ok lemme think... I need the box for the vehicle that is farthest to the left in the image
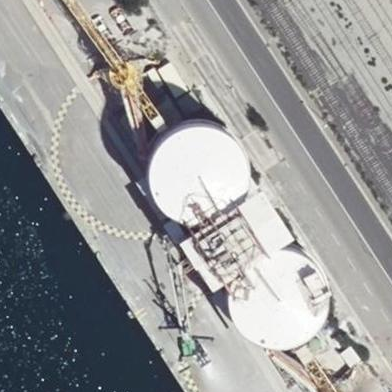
[94,16,114,42]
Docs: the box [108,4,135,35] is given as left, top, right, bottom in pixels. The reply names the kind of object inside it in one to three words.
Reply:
truck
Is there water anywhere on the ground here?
Yes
